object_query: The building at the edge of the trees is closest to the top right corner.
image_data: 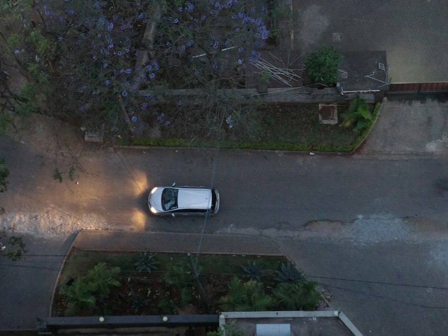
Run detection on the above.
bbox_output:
[338,50,387,101]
